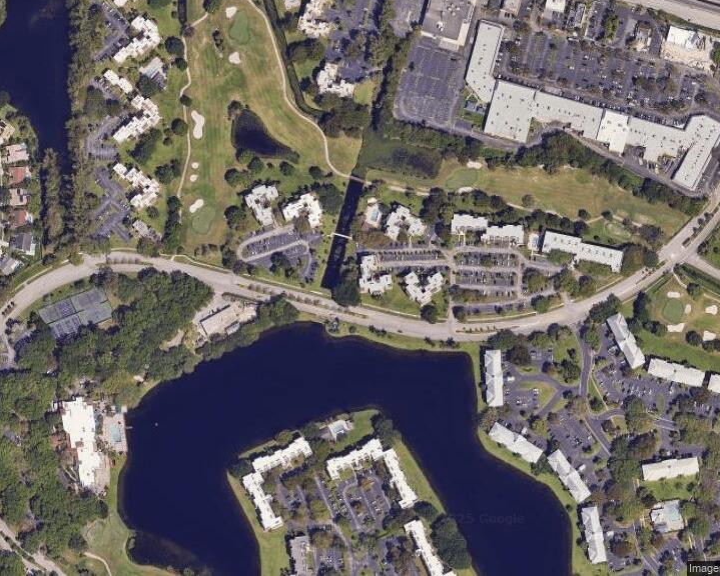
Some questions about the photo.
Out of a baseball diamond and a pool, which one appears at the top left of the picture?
pool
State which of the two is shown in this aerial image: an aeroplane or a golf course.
golf course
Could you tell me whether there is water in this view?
Yes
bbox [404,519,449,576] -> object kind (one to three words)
building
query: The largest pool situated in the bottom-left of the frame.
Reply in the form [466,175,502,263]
[106,416,125,448]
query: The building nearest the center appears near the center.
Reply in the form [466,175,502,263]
[359,255,391,291]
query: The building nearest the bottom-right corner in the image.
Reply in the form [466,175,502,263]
[651,502,676,533]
